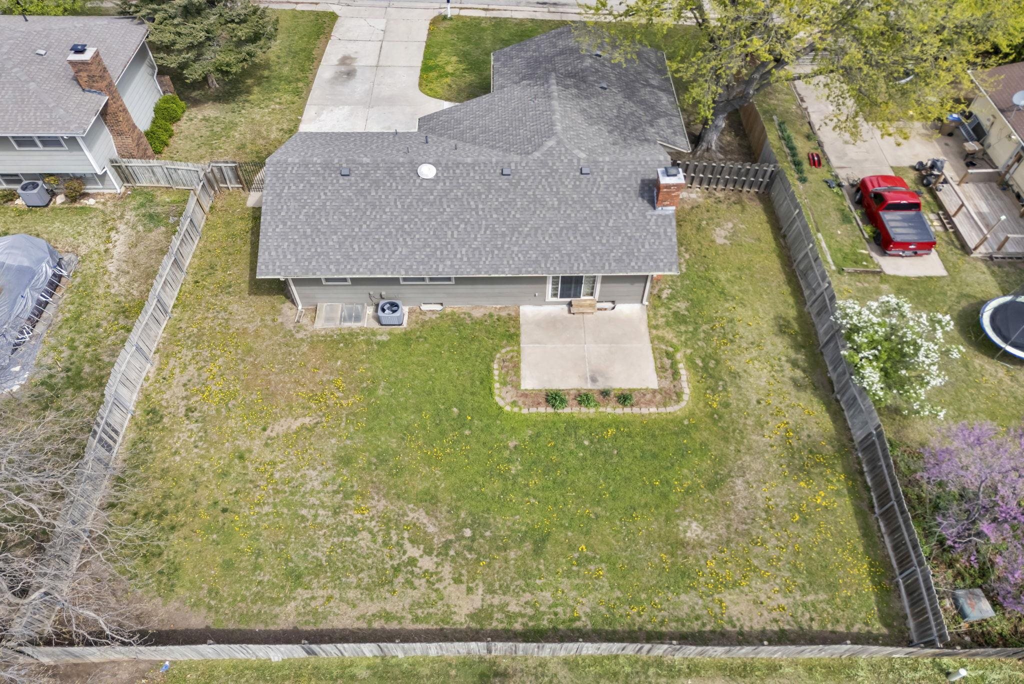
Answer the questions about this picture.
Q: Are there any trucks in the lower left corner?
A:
No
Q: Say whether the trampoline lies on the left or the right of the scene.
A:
right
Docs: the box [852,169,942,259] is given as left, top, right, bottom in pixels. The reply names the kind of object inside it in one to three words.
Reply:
truck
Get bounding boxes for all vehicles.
[852,169,942,259]
[912,150,958,188]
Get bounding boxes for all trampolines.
[973,267,1024,377]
